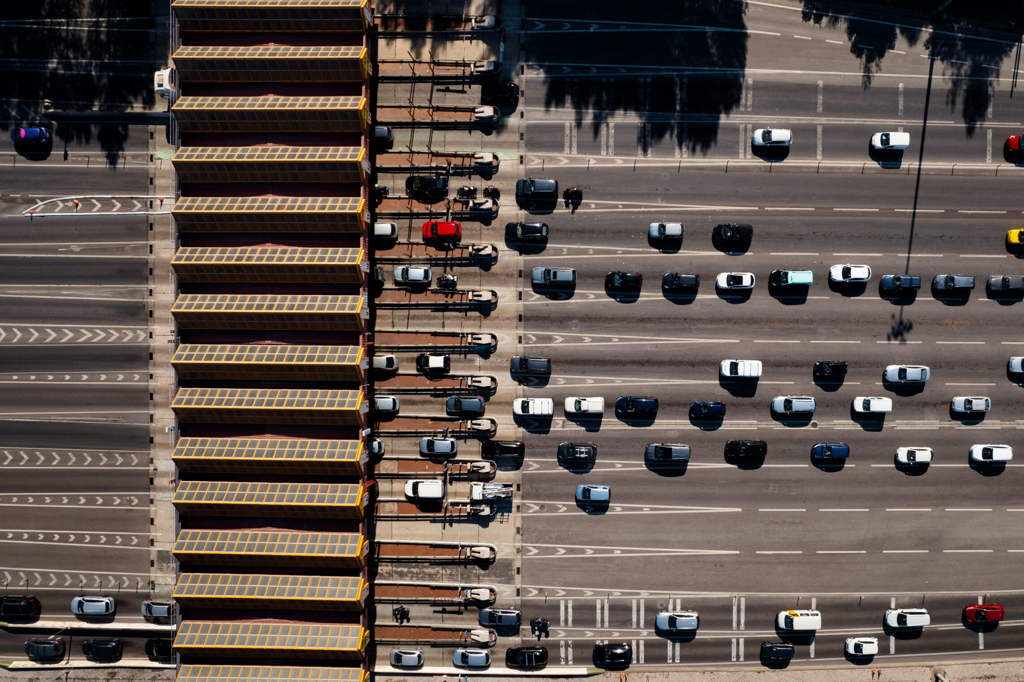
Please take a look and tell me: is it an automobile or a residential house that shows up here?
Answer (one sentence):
Of the two, only an automobile appears.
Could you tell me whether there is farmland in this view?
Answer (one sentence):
No, there's no farmland in this view.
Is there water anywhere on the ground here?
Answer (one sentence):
No, there is no water in the image.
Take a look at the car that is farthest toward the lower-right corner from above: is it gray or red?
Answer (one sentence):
The color of the car that is farthest toward the lower-right corner is red.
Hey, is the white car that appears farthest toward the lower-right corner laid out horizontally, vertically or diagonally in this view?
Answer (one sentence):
The white car that appears farthest toward the lower-right corner runs horizontally in the image.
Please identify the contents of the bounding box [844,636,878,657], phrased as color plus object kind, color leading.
white car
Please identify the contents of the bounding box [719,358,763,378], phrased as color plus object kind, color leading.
white vehicle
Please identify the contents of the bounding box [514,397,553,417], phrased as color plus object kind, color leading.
white vehicle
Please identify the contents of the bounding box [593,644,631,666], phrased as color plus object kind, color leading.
black car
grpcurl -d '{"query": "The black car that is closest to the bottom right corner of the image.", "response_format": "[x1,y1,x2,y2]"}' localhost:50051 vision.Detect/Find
[760,640,794,661]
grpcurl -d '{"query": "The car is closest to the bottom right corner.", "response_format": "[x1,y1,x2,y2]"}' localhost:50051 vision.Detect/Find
[961,603,1004,624]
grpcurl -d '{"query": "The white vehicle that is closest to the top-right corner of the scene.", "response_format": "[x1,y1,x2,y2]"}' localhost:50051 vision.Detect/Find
[870,129,913,151]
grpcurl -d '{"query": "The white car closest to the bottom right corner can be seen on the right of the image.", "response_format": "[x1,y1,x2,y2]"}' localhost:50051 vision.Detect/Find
[884,607,930,630]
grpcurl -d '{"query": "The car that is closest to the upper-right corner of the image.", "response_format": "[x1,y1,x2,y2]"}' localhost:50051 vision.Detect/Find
[1001,133,1024,153]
